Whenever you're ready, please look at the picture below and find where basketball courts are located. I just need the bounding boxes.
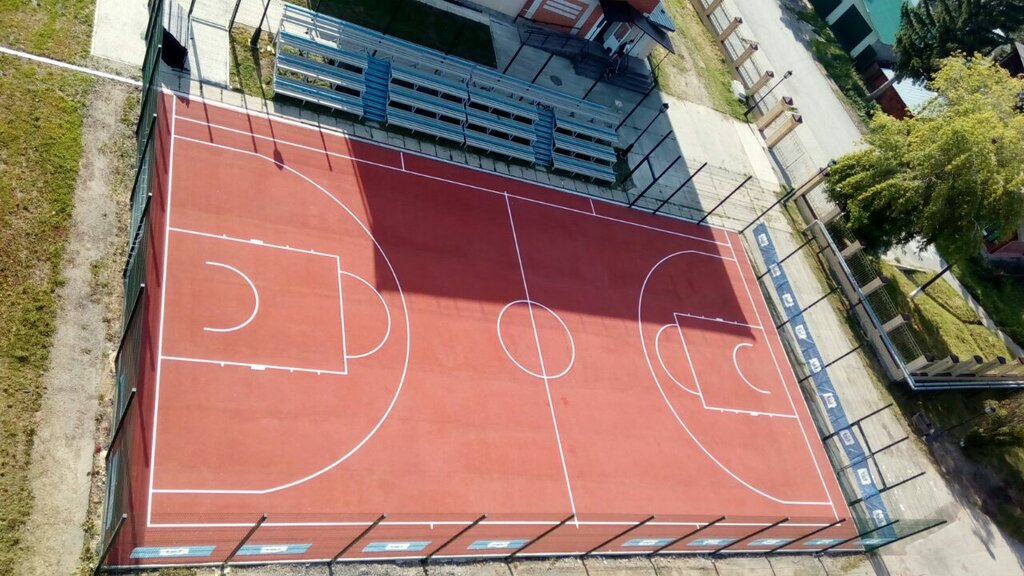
[101,89,866,575]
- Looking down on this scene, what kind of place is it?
sports ground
